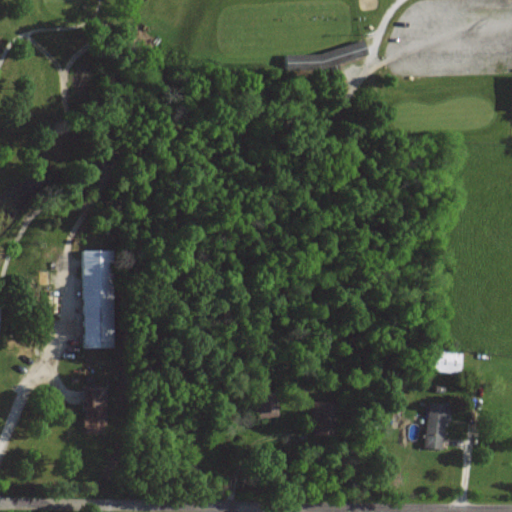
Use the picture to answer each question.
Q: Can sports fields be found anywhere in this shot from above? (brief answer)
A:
Yes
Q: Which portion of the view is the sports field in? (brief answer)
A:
top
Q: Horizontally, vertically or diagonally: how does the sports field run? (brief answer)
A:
horizontally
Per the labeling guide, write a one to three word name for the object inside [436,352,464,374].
building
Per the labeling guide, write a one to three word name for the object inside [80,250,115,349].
barn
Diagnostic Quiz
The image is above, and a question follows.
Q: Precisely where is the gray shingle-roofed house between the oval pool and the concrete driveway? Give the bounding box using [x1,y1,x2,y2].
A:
[426,412,449,450]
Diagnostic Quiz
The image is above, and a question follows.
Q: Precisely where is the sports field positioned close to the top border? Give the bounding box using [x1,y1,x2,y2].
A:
[217,2,352,64]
